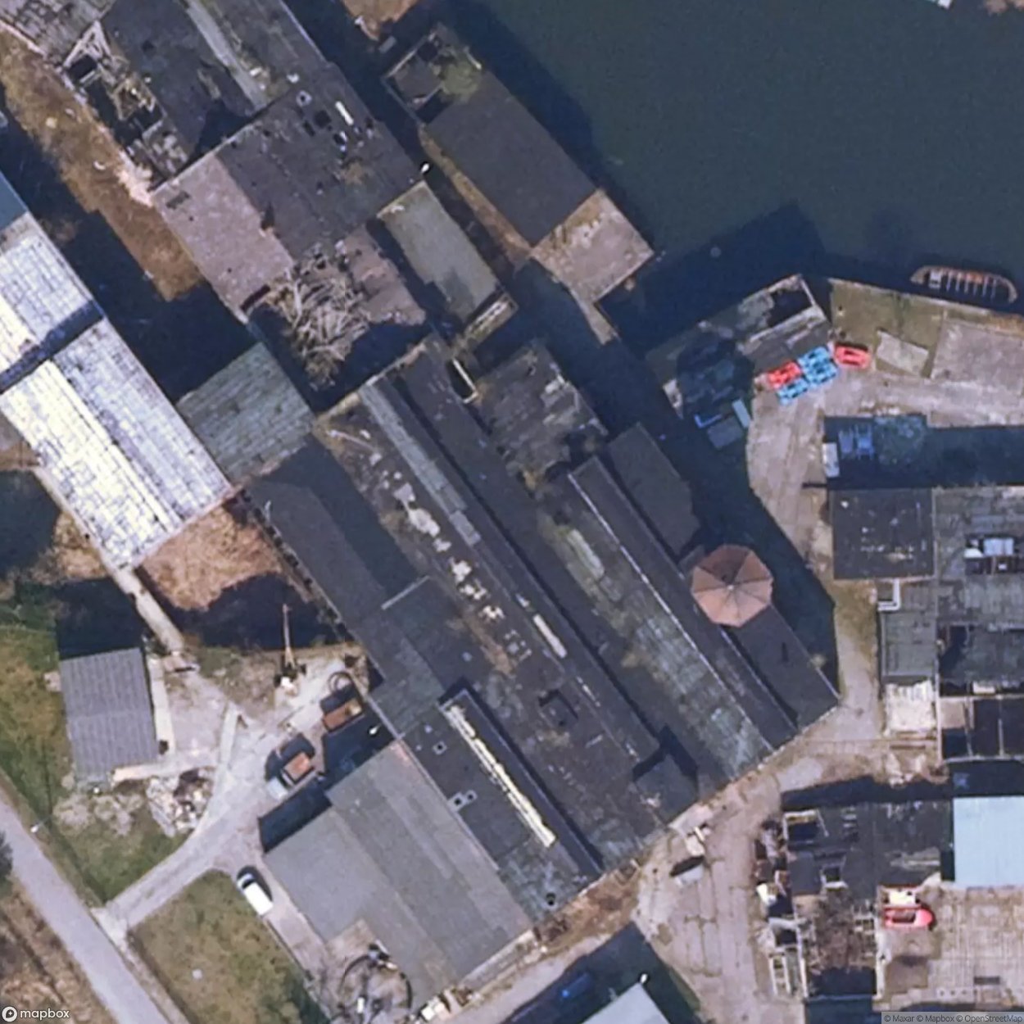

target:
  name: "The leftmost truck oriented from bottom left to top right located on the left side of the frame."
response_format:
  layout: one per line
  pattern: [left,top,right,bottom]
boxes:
[264,753,318,797]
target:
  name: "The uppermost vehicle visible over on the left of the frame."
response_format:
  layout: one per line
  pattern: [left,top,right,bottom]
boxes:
[272,598,310,694]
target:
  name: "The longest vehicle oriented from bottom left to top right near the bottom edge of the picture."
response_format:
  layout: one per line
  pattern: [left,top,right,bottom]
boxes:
[556,960,610,1004]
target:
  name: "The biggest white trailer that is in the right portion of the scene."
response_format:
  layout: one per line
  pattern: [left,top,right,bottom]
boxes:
[884,886,922,906]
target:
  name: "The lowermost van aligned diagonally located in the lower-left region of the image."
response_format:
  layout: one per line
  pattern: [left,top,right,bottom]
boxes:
[233,865,275,920]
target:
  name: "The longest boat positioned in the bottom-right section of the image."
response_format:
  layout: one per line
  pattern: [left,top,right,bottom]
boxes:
[885,908,935,929]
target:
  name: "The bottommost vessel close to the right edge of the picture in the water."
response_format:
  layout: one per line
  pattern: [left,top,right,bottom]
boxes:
[913,266,1014,313]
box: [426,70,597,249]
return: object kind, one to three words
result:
shed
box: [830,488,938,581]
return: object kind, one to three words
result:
building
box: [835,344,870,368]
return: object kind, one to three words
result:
boat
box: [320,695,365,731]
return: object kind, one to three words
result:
trailer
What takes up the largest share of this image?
buildings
